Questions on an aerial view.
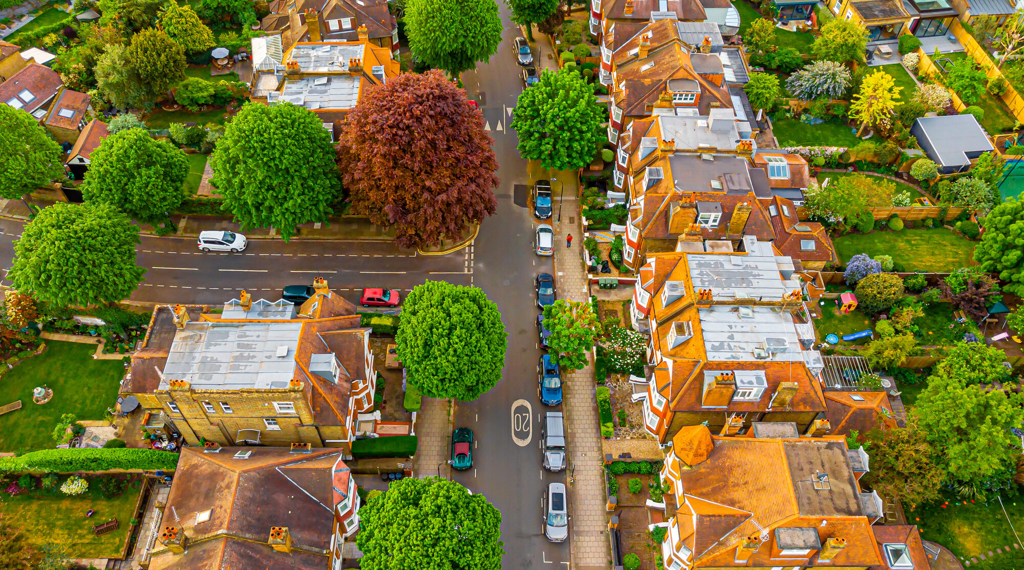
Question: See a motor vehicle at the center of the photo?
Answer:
Yes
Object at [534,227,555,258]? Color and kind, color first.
white car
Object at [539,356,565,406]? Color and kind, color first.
blue car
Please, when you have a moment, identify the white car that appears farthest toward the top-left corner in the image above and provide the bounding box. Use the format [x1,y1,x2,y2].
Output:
[197,232,247,254]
